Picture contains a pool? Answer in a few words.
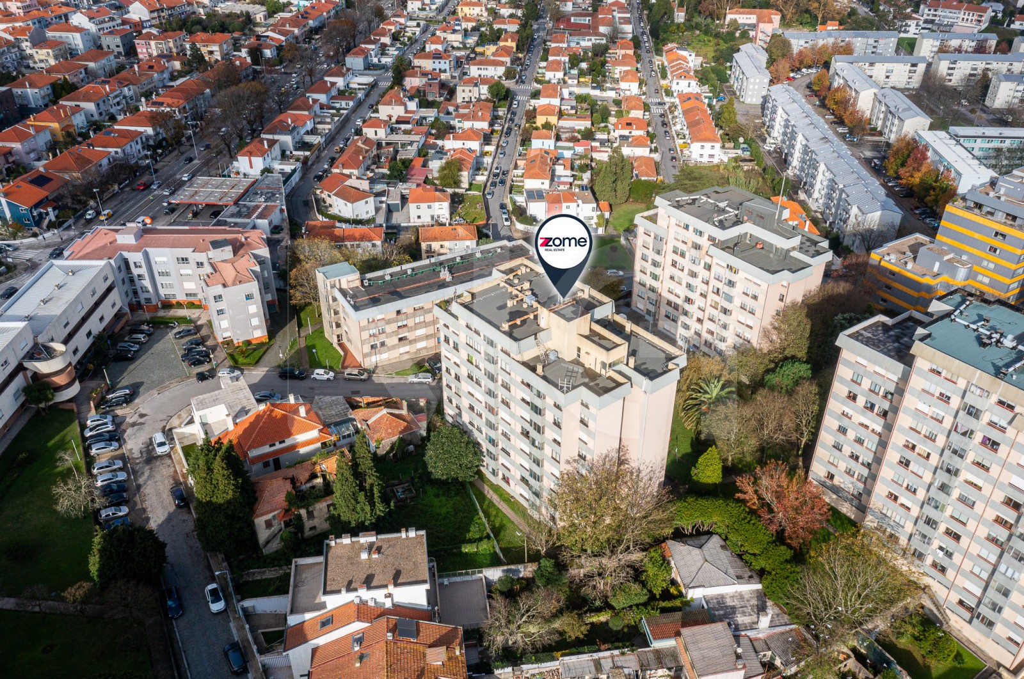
No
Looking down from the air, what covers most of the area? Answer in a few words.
buildings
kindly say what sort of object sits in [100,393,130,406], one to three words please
vehicle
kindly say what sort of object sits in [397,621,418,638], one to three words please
solar panel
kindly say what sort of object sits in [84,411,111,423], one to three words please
vehicle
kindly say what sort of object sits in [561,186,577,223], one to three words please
house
